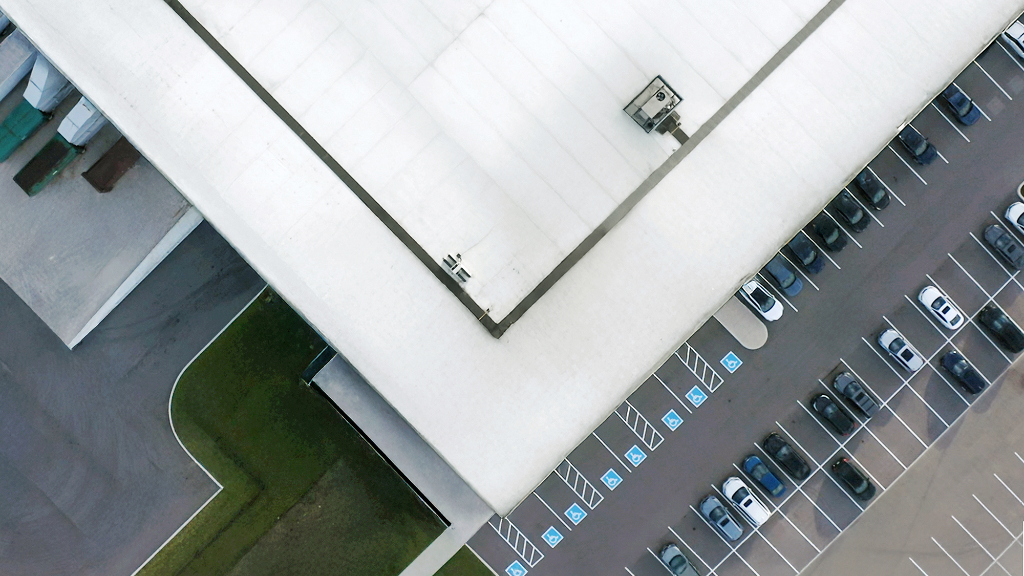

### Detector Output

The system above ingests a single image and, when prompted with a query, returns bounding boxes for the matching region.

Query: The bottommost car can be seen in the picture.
[658,540,706,576]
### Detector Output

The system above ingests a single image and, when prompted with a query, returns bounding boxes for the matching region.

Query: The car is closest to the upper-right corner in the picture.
[1001,21,1024,61]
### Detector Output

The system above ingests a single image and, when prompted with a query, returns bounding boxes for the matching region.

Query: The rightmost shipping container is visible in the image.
[80,132,144,196]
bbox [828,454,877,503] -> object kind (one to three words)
car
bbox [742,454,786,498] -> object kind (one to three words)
car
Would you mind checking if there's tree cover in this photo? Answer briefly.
No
